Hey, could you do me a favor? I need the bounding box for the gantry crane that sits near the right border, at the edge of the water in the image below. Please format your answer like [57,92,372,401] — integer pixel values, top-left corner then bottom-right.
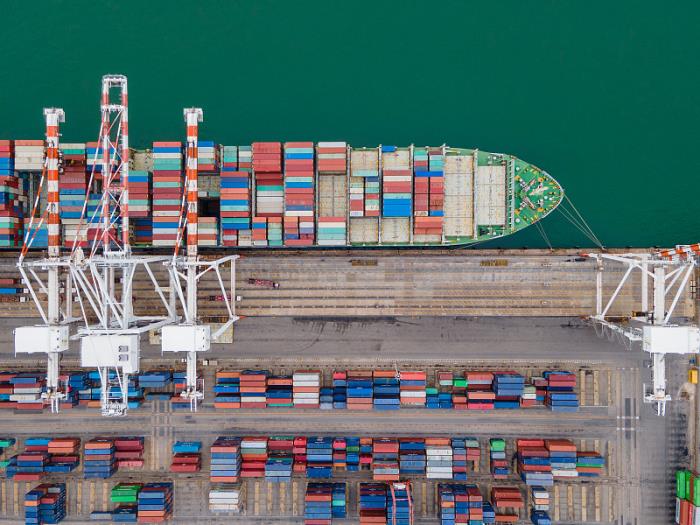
[576,244,700,406]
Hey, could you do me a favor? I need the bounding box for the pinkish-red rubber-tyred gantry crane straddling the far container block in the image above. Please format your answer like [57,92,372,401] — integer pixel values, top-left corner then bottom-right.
[386,481,416,525]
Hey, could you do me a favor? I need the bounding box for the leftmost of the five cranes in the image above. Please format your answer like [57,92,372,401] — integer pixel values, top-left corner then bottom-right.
[11,107,125,406]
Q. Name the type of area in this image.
port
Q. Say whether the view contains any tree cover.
No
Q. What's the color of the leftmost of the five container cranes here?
white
